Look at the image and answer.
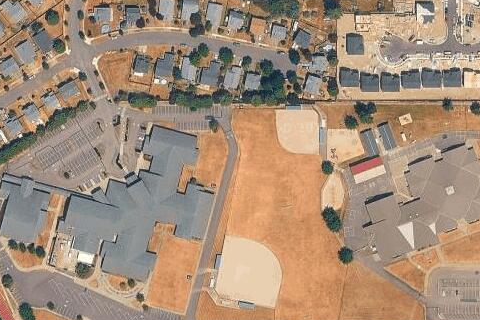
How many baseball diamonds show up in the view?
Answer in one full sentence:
In total, there are 2 baseball diamonds in the scene.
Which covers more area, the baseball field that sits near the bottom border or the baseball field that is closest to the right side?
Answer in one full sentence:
The baseball field that sits near the bottom border is bigger than the baseball field that is closest to the right side.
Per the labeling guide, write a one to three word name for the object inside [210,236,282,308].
baseball field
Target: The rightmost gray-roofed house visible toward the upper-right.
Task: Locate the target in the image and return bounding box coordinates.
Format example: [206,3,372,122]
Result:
[443,68,460,88]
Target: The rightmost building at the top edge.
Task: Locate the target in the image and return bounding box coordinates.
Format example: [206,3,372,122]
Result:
[416,2,434,23]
